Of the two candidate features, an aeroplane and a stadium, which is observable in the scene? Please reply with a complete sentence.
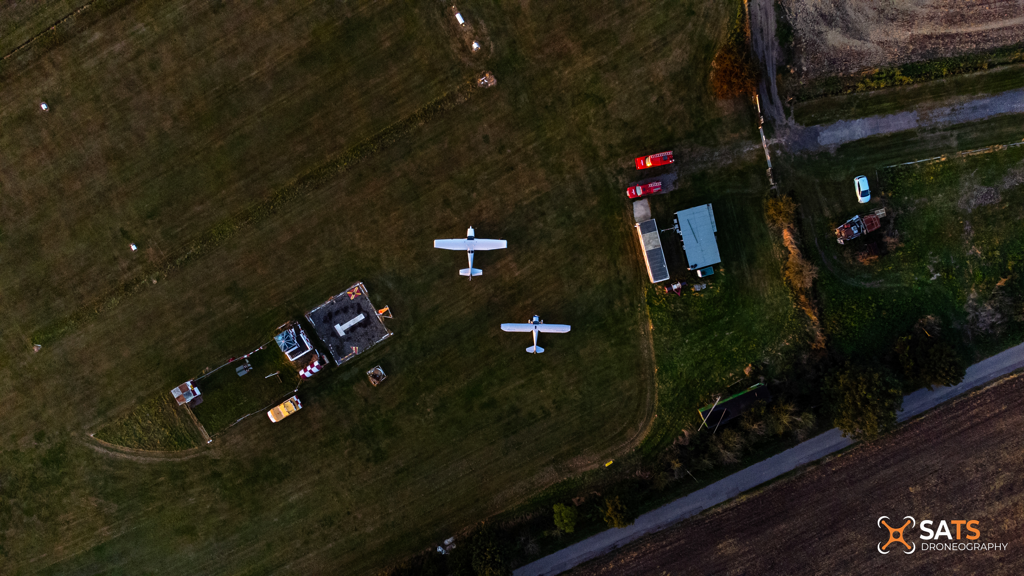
Of the two, only an aeroplane appears.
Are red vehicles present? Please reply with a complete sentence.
Yes, there's a red vehicle here.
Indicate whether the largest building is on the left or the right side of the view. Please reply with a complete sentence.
It is on the right.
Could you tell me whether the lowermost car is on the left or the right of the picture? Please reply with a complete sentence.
The lowermost car sits on the left side.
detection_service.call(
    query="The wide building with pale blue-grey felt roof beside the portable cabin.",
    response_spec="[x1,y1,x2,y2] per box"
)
[674,204,721,271]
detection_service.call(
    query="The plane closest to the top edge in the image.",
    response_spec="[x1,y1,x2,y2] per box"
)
[434,226,507,281]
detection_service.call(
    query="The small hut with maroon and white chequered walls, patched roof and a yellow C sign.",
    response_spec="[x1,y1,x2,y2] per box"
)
[170,380,202,406]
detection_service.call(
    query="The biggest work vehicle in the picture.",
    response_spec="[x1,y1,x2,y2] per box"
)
[833,215,880,243]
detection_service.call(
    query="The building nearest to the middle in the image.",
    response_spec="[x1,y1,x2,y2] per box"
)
[636,219,670,283]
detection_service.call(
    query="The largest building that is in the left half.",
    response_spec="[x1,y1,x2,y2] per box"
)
[273,321,318,361]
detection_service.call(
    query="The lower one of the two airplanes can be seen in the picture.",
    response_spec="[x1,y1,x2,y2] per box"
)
[501,315,571,352]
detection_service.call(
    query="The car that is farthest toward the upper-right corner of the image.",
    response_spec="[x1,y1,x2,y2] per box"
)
[852,176,870,204]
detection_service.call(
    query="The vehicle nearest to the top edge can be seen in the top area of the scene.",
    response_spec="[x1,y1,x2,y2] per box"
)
[634,151,674,170]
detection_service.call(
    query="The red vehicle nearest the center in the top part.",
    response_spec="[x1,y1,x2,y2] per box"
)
[626,181,662,198]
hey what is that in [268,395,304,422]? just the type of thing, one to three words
car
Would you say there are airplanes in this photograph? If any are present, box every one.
[501,315,571,352]
[434,226,507,281]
